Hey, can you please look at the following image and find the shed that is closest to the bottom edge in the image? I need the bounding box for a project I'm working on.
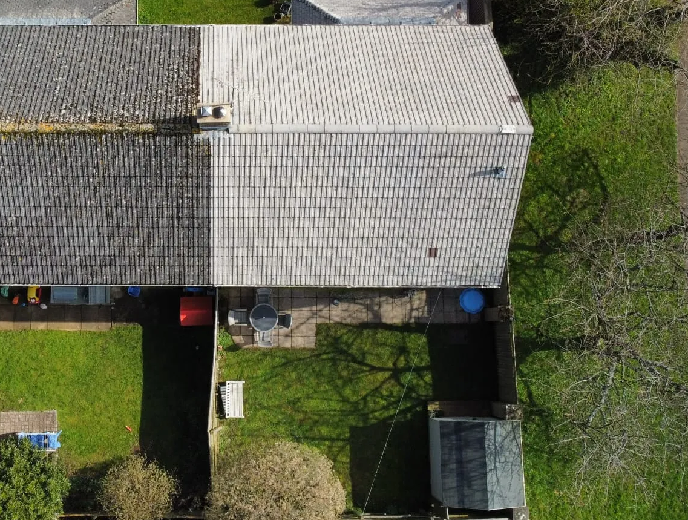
[430,416,525,511]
